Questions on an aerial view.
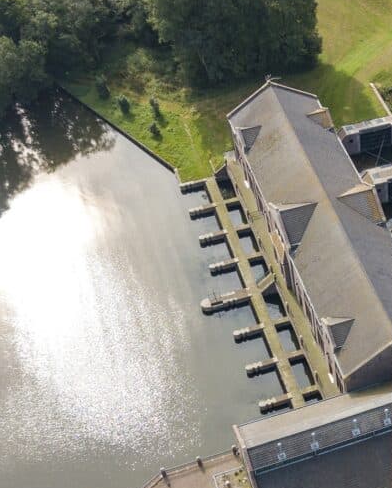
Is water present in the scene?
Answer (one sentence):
Yes, water can be seen from above here.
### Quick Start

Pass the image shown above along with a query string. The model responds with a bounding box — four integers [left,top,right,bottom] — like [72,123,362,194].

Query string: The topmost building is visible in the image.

[225,70,392,394]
